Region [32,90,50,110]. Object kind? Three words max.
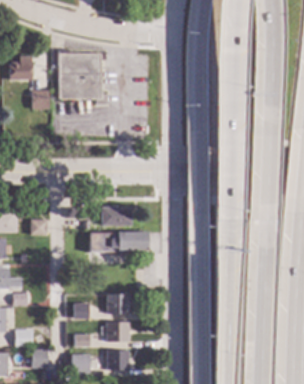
building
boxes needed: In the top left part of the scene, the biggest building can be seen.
[58,52,104,100]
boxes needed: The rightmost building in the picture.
[119,232,150,250]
